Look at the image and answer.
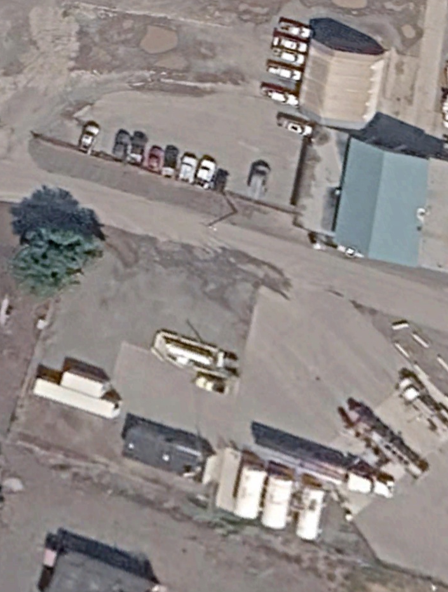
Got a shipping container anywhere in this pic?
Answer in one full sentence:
Yes, the frame does contain a shipping container.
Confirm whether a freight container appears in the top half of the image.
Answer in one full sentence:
No, there is no freight container in the top half of the image.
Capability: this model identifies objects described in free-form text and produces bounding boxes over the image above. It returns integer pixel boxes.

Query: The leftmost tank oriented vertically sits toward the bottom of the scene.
[236,469,266,516]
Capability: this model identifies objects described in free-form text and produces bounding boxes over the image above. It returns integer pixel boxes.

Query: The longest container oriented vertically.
[216,448,244,510]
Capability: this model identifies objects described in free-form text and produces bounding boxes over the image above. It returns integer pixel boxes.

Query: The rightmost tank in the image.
[295,490,324,538]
